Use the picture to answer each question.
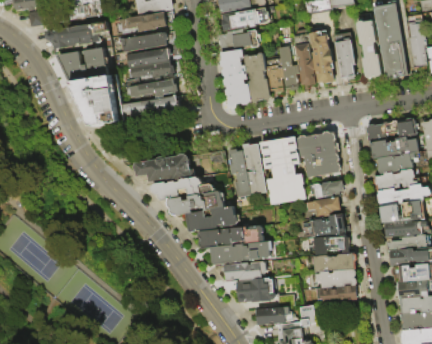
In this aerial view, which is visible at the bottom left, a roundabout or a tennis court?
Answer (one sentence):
Looking at the bottom left, you will find a tennis court.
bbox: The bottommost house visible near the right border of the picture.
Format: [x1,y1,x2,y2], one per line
[401,328,432,344]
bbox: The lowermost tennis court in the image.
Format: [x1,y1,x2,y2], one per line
[57,270,130,344]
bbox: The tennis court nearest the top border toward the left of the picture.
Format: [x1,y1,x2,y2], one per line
[0,216,77,296]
